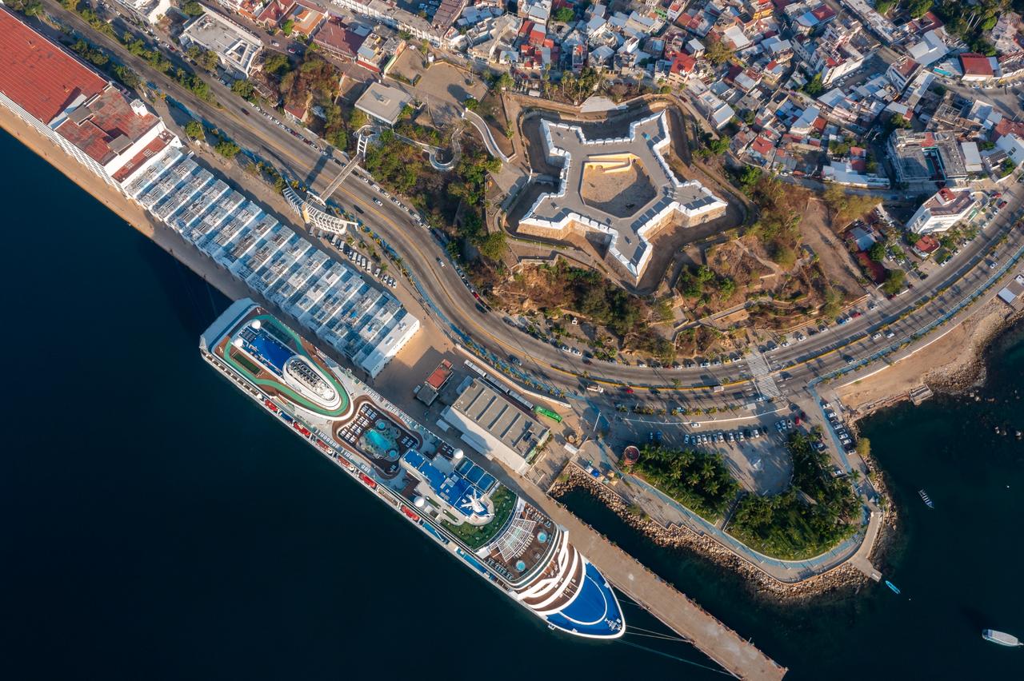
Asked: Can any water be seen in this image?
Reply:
Yes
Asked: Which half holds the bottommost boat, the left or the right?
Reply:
right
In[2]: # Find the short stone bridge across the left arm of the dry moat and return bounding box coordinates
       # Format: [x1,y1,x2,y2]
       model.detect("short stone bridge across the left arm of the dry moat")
[516,171,566,188]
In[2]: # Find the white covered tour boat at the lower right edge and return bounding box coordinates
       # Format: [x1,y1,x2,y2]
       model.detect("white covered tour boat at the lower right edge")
[981,627,1022,647]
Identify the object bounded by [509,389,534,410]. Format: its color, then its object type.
gray bus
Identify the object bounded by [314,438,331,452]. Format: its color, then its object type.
red boat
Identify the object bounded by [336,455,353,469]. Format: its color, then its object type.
red boat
